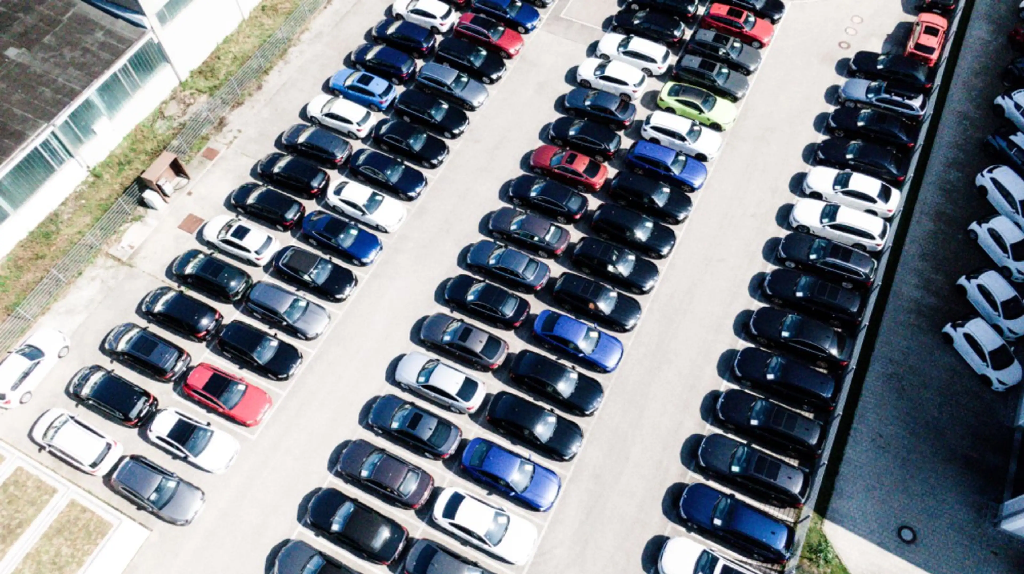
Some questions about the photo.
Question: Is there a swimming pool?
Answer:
No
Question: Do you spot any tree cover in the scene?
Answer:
No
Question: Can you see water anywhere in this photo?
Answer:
No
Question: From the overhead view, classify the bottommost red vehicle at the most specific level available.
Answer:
automobile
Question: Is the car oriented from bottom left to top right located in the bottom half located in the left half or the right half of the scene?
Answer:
left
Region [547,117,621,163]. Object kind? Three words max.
car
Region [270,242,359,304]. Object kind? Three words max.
car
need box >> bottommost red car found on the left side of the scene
[175,358,274,429]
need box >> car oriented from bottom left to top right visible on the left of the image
[0,326,74,409]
